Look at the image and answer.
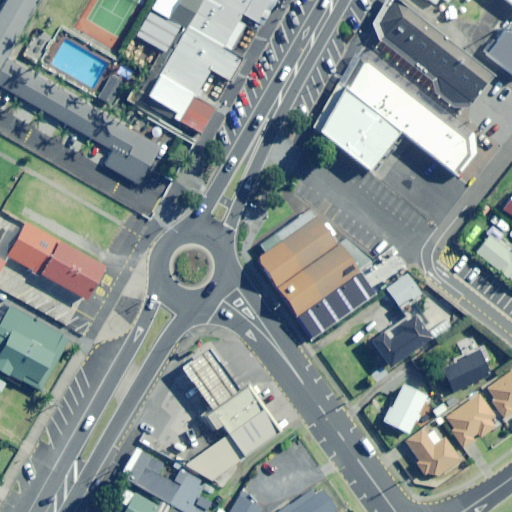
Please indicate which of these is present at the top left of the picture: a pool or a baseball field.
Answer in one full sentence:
What appears at the top left of the picture is a pool.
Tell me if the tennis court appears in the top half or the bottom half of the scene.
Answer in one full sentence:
The top half of the photo is where the tennis court is.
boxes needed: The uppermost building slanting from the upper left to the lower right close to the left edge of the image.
[0,56,158,184]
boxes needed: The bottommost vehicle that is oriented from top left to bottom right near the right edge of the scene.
[496,218,510,234]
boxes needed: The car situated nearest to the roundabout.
[201,282,216,298]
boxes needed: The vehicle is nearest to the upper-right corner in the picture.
[444,6,456,21]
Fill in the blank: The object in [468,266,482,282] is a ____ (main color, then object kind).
white car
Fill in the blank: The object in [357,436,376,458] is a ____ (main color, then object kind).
white vehicle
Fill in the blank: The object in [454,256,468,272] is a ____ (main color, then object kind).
white car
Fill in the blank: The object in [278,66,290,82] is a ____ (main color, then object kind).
white vehicle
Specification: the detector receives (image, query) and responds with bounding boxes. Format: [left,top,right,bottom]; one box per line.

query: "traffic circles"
[170,244,215,289]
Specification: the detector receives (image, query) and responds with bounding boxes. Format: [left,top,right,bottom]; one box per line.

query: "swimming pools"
[42,29,116,98]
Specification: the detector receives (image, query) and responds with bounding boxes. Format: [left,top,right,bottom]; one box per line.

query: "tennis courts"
[73,0,142,50]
